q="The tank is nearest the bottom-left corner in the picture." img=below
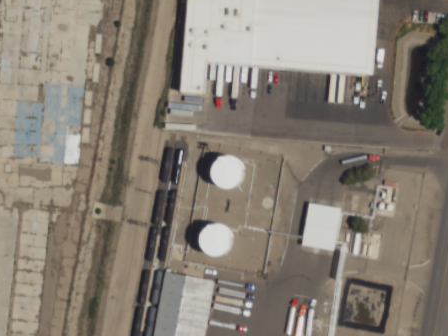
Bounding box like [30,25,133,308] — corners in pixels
[200,222,235,258]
